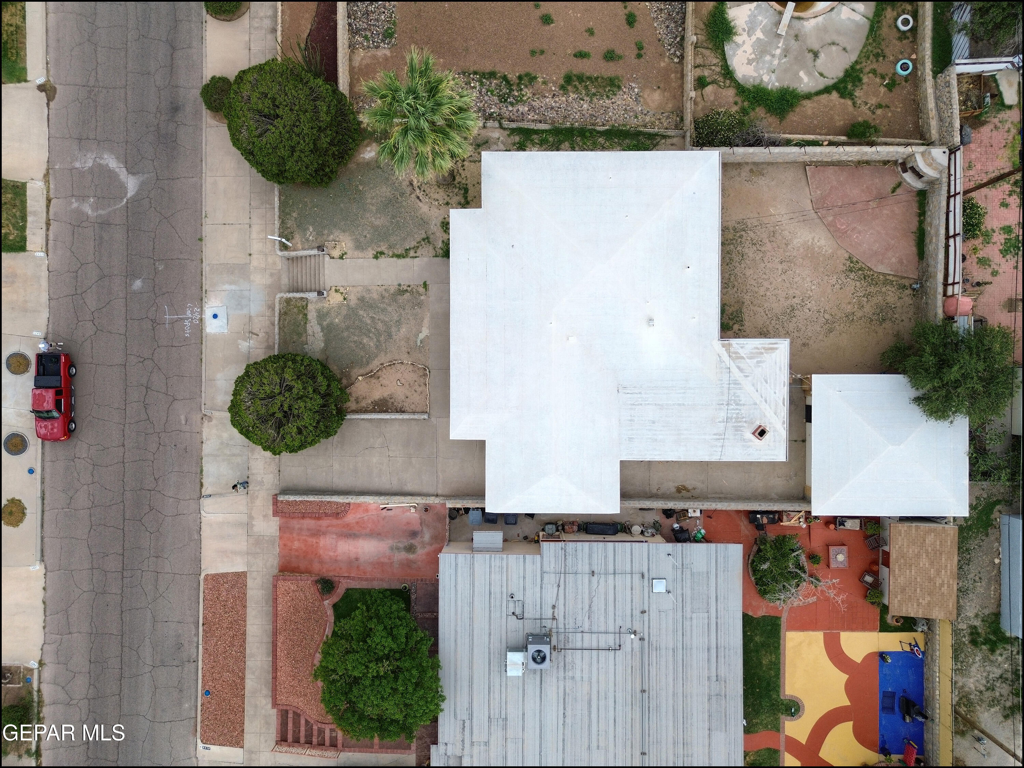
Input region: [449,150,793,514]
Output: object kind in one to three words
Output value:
house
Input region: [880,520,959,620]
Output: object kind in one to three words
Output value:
shed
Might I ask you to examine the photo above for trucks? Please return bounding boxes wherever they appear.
[30,351,78,443]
